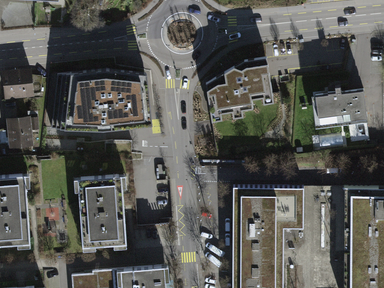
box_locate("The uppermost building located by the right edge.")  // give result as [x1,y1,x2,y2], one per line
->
[312,84,366,128]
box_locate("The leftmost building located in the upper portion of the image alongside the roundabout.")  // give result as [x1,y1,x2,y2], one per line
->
[52,68,151,130]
